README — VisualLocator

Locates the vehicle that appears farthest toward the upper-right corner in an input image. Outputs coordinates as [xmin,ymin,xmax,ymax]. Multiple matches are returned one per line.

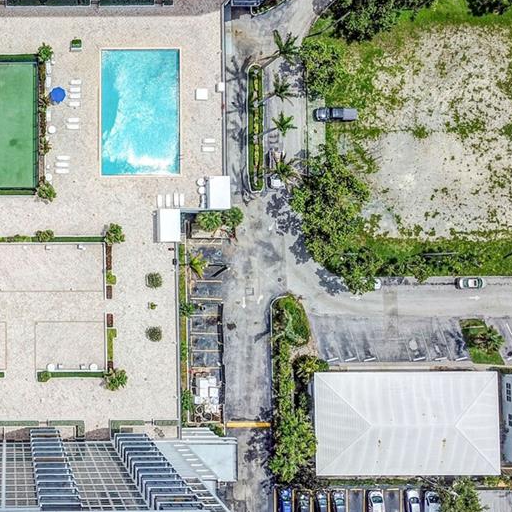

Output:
[315,106,357,122]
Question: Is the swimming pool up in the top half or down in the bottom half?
top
